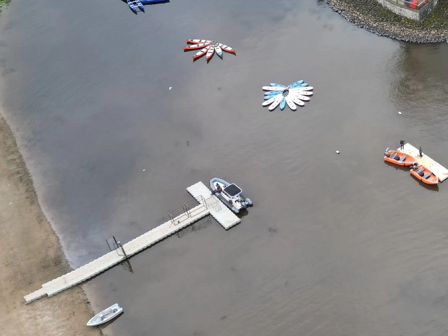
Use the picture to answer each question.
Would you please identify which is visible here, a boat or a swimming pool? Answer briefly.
boat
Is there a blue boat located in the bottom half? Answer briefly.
No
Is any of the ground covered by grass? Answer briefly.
No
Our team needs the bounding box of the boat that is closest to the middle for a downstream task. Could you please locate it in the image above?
[209,177,254,214]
